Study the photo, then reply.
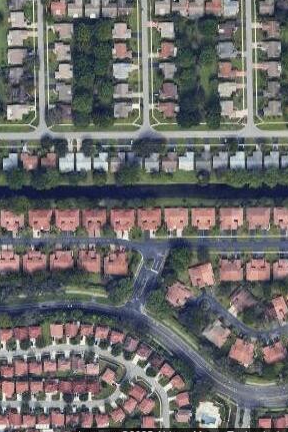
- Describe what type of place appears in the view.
residential area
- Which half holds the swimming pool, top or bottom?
bottom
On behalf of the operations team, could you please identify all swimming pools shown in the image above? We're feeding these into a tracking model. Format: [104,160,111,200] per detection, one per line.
[196,402,220,427]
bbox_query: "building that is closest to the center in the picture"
[139,209,162,231]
